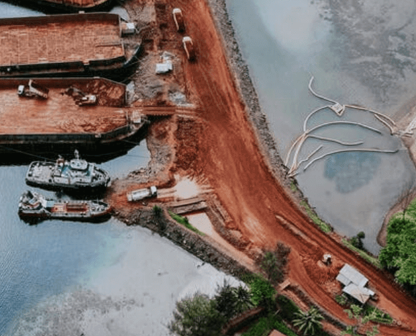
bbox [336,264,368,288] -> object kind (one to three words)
shed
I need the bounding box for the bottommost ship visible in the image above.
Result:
[18,195,112,225]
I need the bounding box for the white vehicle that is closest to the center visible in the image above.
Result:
[128,182,158,200]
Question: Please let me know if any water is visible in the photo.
Yes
